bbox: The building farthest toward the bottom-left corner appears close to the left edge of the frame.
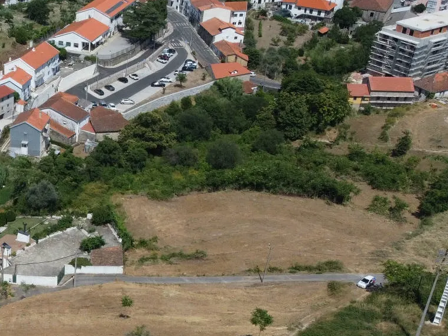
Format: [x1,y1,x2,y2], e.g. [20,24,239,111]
[0,230,35,273]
